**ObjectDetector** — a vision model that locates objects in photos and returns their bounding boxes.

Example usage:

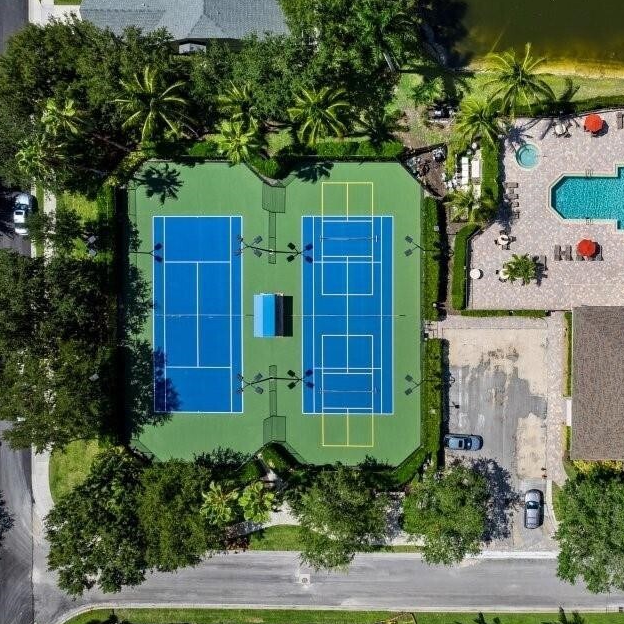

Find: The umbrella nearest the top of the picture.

[585,115,603,133]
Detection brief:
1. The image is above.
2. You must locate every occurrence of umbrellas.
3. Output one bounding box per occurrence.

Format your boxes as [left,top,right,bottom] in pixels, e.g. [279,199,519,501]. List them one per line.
[578,239,596,257]
[585,115,603,133]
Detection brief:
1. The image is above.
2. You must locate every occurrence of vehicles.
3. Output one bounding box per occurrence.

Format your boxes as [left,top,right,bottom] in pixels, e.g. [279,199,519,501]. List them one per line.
[444,433,483,451]
[524,487,543,528]
[14,194,36,235]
